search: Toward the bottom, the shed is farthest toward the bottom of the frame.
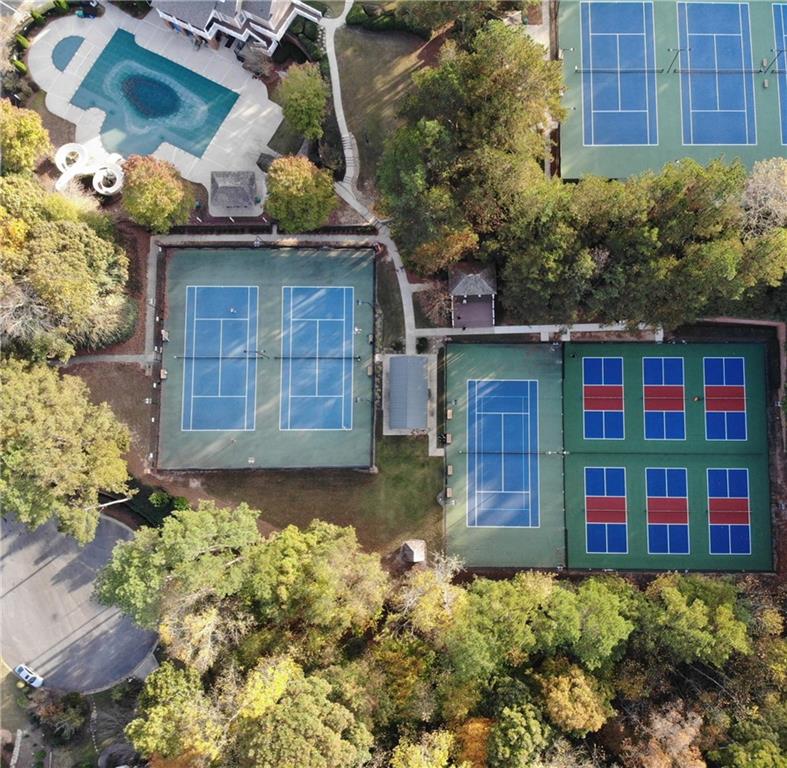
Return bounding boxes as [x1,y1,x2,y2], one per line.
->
[402,538,425,563]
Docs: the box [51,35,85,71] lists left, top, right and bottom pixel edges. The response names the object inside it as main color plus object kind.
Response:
blue swimming pool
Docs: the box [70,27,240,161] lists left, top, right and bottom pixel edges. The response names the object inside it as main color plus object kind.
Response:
blue swimming pool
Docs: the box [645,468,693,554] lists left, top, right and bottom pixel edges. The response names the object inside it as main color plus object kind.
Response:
blue sports court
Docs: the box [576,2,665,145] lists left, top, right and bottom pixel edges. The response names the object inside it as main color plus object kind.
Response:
blue tennis court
